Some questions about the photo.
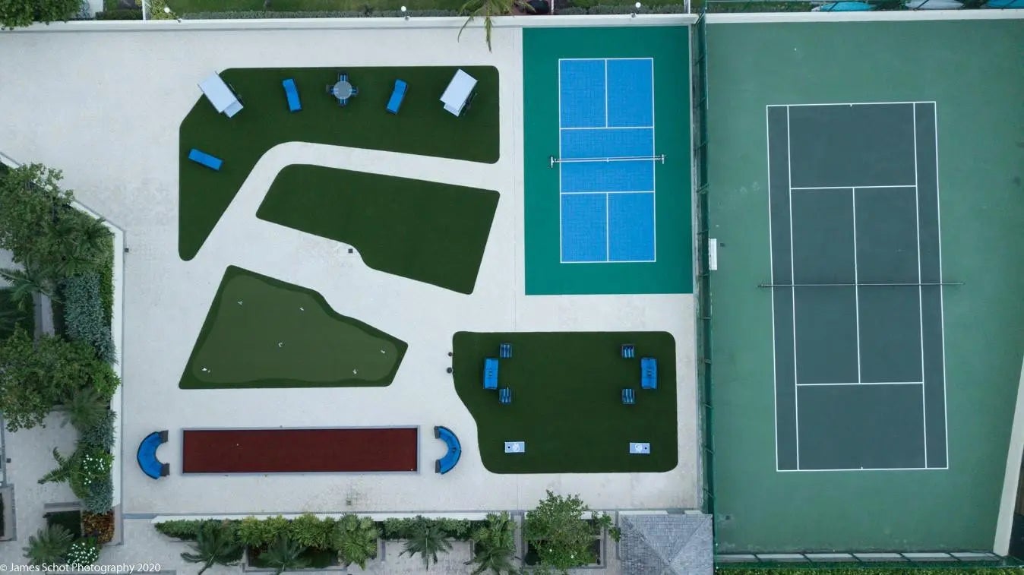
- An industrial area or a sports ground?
sports ground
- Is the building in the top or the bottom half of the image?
bottom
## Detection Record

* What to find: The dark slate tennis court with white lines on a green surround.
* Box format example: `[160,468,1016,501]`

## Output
[700,18,1024,555]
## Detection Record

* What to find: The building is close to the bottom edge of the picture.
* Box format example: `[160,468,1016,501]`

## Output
[619,513,712,575]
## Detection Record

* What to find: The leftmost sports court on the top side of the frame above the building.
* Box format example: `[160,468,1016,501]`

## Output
[523,26,693,295]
